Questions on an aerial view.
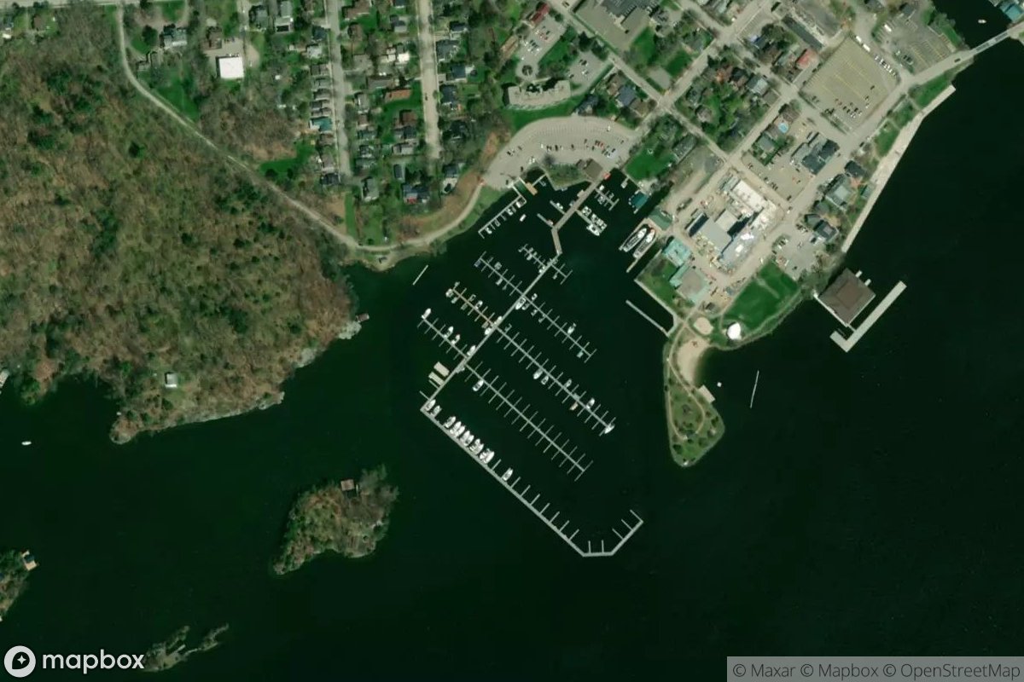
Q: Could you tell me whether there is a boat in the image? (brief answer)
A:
Yes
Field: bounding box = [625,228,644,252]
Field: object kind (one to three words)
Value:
boat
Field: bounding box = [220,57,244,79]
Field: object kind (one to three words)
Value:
building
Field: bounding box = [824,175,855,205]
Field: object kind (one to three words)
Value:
house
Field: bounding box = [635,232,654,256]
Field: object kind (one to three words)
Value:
boat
